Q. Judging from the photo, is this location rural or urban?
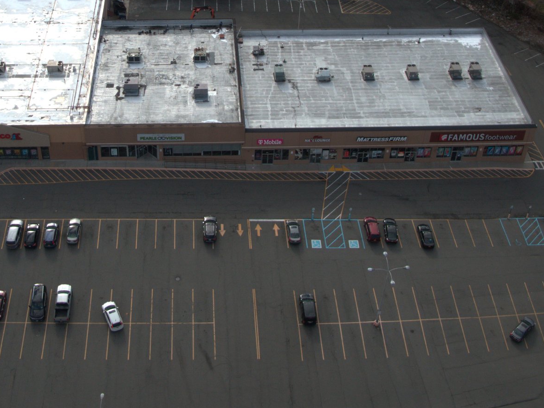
urban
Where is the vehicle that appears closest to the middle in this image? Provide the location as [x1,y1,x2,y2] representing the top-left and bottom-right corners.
[286,218,304,248]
